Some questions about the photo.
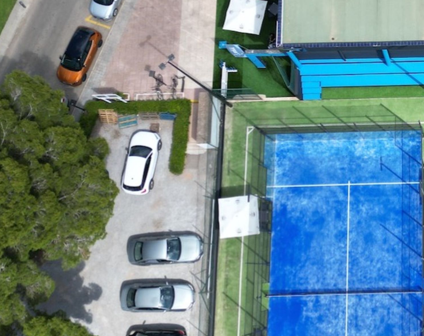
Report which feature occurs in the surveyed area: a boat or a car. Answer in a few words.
car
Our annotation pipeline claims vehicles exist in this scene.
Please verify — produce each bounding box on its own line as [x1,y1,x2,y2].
[127,233,205,268]
[119,130,161,196]
[129,328,187,336]
[119,279,198,316]
[54,26,102,88]
[86,0,118,21]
